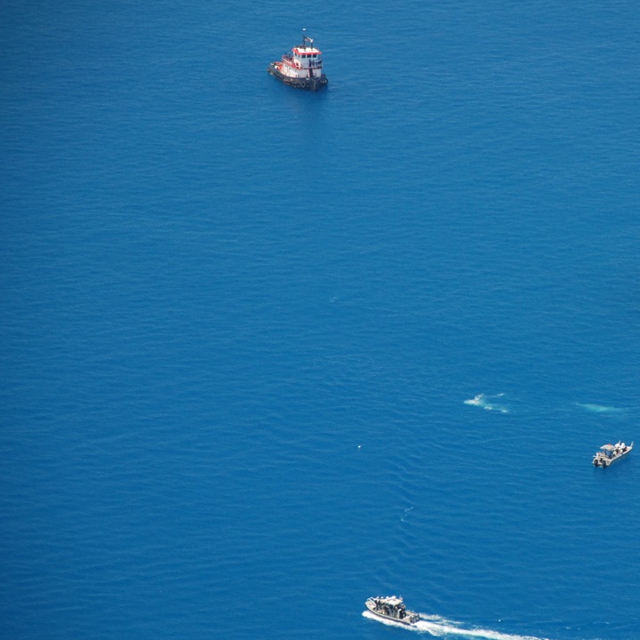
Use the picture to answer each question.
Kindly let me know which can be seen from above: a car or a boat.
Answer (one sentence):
The image shows a boat.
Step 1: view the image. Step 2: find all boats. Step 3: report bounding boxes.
[271,37,328,89]
[363,594,420,623]
[592,440,632,468]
